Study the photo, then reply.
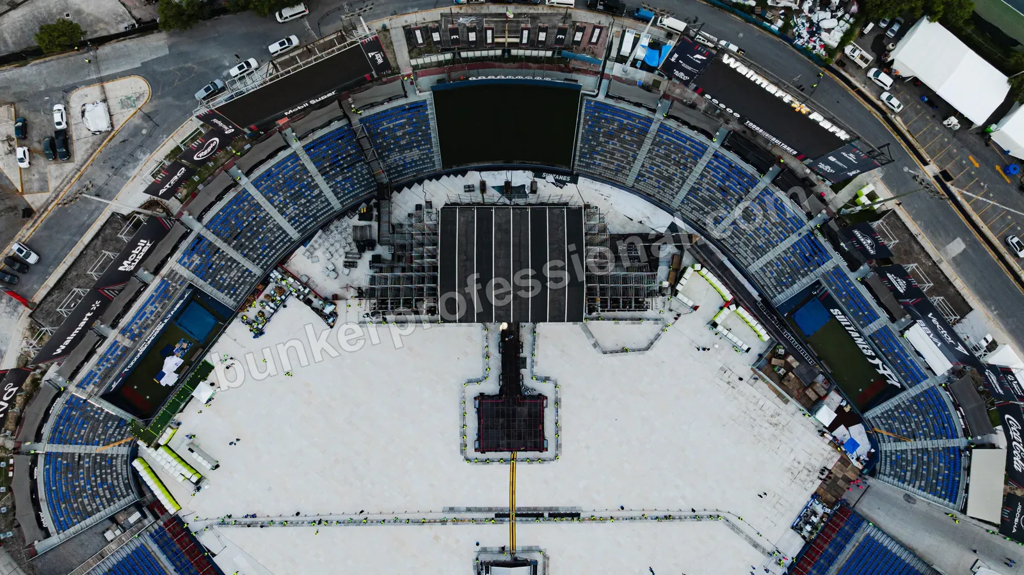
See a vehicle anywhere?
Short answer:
Yes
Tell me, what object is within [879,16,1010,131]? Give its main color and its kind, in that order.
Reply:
white tent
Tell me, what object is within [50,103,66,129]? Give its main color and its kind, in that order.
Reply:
white car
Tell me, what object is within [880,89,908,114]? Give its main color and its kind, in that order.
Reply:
white car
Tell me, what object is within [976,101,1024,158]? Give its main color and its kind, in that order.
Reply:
white tent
